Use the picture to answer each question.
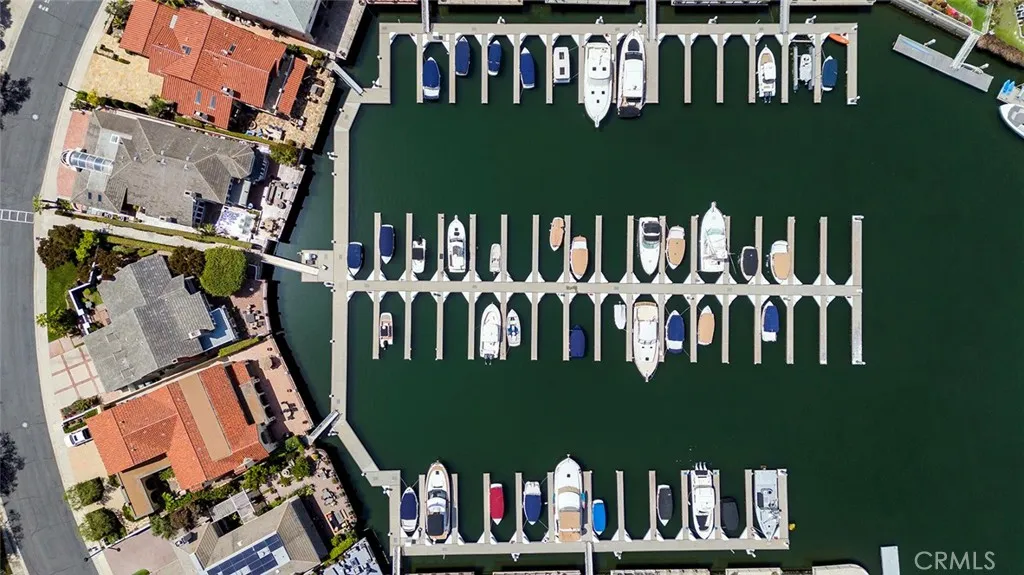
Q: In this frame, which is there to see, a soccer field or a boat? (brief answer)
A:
boat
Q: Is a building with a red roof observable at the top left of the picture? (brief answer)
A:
Yes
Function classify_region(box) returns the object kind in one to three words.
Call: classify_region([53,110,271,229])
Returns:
house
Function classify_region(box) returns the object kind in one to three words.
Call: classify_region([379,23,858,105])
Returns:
pier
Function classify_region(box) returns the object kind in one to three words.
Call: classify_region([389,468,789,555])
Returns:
pier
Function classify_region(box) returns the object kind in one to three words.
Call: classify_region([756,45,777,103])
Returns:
boat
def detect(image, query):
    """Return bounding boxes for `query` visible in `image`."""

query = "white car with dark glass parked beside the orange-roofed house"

[62,429,93,448]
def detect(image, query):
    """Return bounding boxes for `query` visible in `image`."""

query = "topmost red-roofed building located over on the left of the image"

[120,0,307,130]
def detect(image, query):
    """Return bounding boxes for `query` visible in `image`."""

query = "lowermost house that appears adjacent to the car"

[86,360,288,519]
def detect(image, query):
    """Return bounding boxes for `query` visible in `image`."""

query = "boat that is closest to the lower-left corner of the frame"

[401,481,419,532]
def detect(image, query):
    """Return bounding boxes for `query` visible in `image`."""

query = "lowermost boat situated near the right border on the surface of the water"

[999,101,1024,137]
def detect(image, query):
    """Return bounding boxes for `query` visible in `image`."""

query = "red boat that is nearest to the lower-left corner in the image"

[489,483,504,531]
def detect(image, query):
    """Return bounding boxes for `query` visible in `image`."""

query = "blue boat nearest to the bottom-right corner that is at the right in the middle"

[761,302,779,340]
